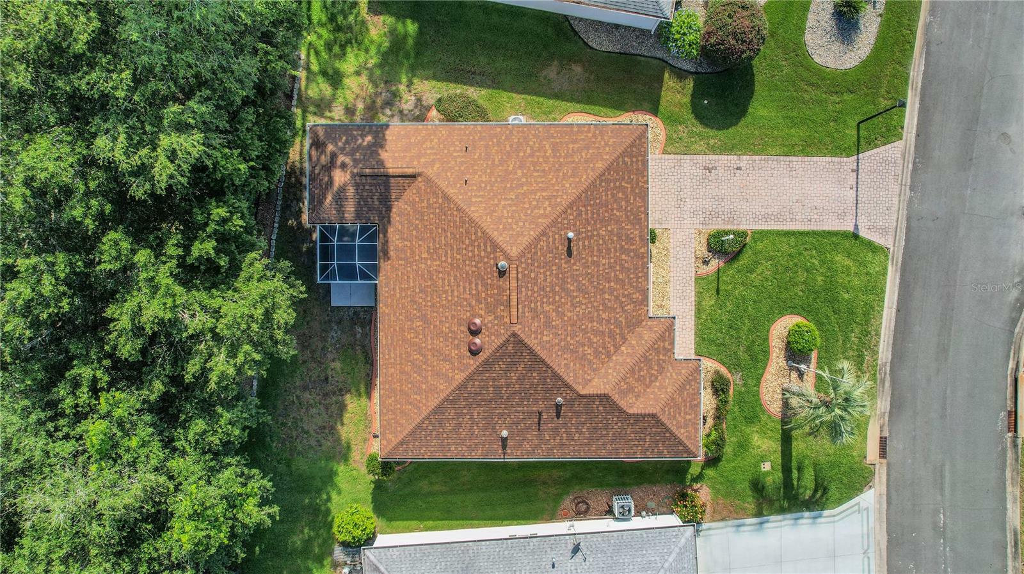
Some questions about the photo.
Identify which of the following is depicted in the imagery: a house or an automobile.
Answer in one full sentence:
The one in the frame is a house.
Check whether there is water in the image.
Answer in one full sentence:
No, the scene doesn't show any water.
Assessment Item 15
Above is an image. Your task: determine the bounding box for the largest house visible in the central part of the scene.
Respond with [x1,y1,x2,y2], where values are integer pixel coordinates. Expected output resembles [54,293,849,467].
[307,123,703,460]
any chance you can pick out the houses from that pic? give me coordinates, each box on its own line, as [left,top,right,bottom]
[478,0,676,35]
[307,123,703,460]
[361,516,699,574]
